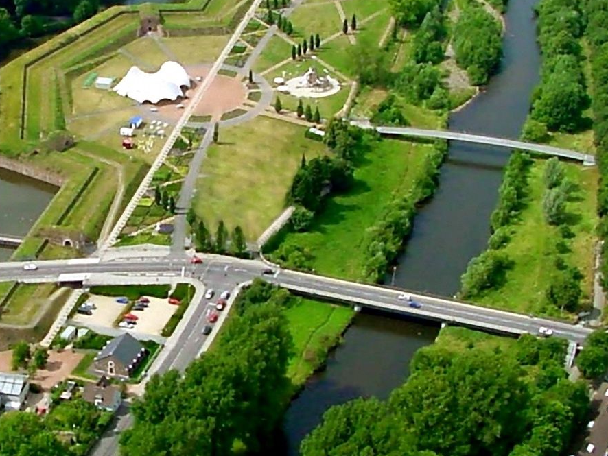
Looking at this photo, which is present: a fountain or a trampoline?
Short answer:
fountain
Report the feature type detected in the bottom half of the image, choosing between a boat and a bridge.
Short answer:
bridge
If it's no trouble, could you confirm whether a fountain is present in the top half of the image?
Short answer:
Yes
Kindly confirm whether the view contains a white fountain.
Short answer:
Yes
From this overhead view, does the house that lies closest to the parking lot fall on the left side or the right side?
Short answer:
left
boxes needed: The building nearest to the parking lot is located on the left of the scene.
[92,331,149,377]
